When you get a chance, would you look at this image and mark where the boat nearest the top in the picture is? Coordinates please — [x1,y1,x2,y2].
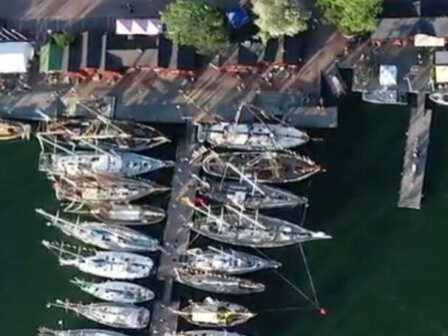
[329,69,344,96]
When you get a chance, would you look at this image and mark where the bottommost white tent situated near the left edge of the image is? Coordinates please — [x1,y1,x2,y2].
[0,43,39,78]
